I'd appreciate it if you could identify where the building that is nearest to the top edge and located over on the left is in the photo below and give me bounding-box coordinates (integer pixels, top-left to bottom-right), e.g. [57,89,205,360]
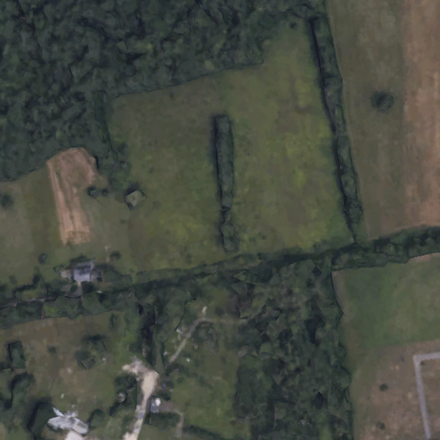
[60,263,102,283]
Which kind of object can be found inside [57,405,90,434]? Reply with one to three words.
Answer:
house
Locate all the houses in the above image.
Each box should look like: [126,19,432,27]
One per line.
[60,263,102,283]
[57,405,90,434]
